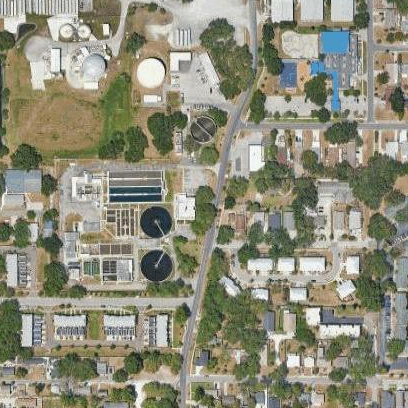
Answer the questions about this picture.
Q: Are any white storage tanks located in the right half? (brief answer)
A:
No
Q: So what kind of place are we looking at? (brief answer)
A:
residential area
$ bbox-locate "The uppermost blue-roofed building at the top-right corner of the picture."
[322,32,350,52]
